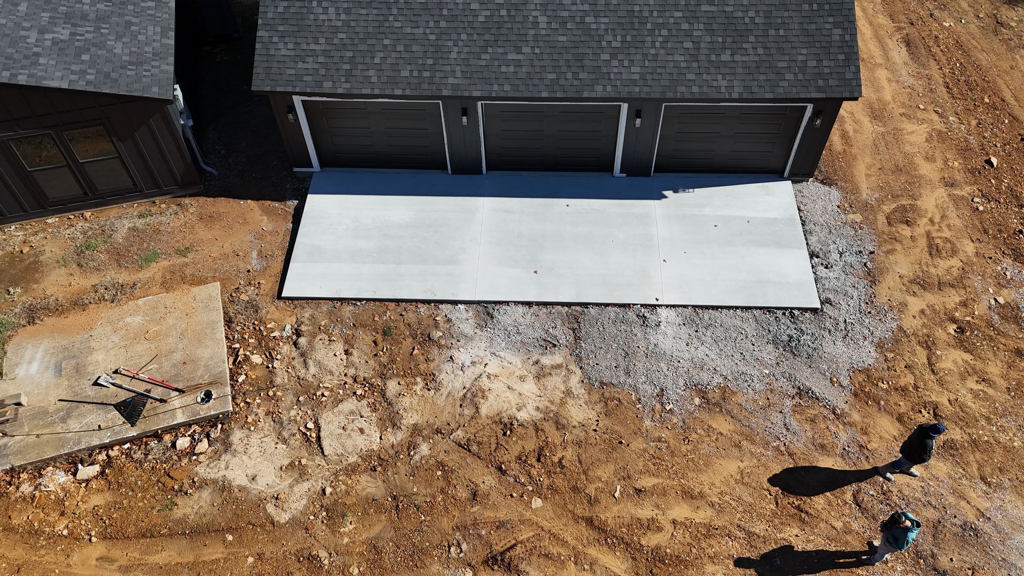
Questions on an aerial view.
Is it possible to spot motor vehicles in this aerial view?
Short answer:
No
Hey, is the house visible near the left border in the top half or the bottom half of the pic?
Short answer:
top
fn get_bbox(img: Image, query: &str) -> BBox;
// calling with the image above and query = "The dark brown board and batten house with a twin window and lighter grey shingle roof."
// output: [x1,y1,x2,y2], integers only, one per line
[0,0,241,228]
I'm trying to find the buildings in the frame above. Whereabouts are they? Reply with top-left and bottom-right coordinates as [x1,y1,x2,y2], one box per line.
[0,0,241,228]
[251,0,861,181]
